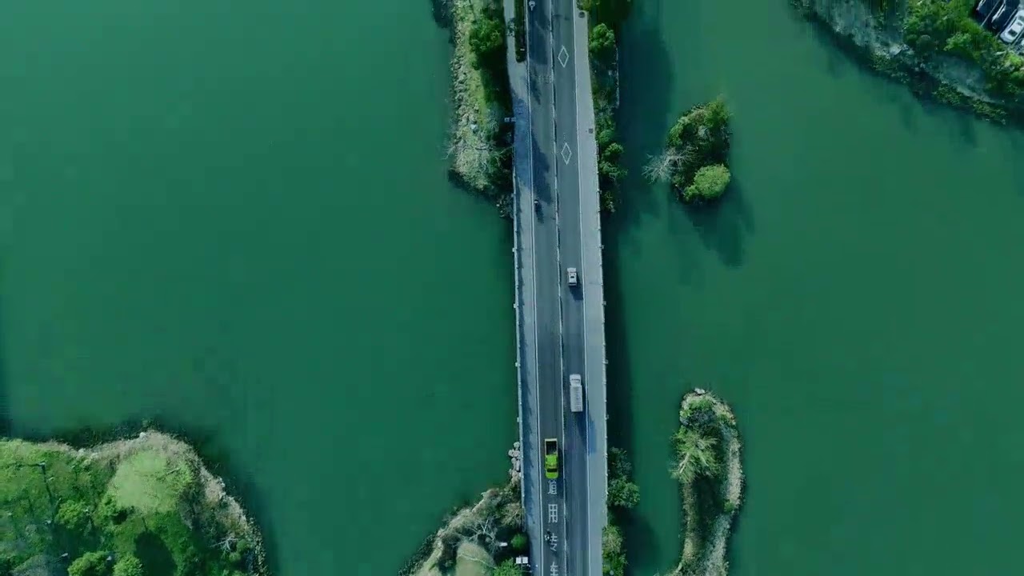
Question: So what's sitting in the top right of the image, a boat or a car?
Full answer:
It is a car that can be seen in the top right of the image.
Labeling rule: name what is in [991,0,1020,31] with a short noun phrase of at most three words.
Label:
car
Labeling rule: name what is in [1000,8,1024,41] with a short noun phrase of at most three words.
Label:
car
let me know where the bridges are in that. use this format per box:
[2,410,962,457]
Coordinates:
[511,132,611,535]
